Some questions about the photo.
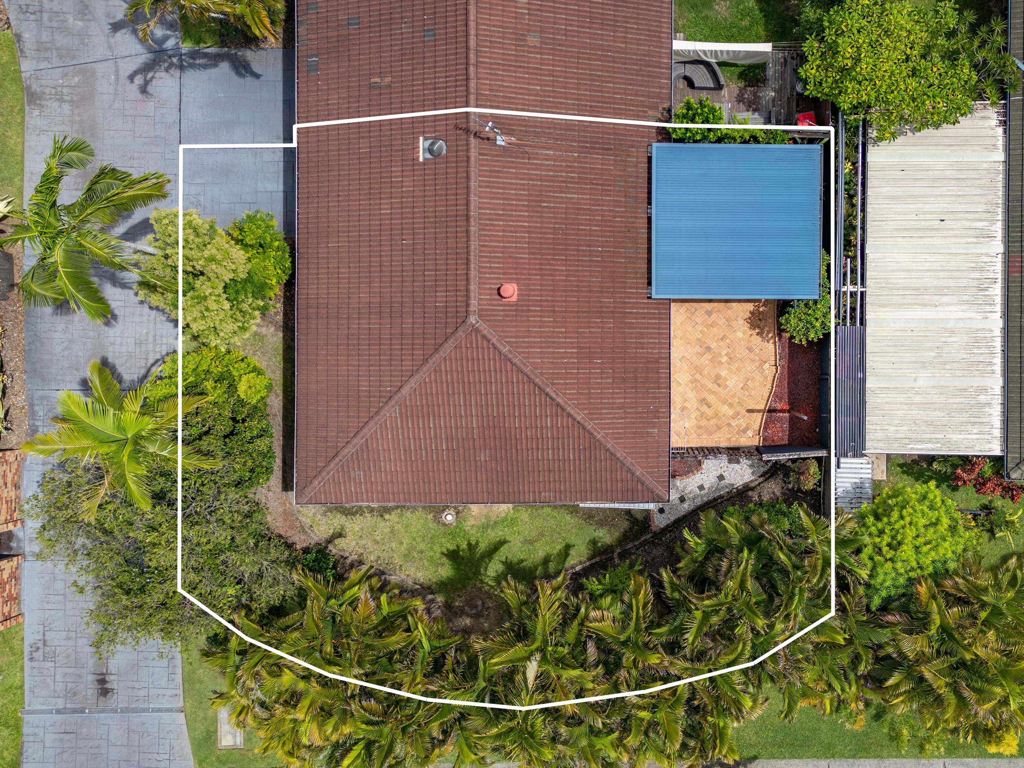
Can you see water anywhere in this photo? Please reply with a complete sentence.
No, there is no water in the image.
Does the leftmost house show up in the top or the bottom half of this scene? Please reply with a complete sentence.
You can find the leftmost house in the top half.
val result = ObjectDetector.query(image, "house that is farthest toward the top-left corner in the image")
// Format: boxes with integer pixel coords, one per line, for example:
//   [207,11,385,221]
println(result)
[295,0,672,504]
